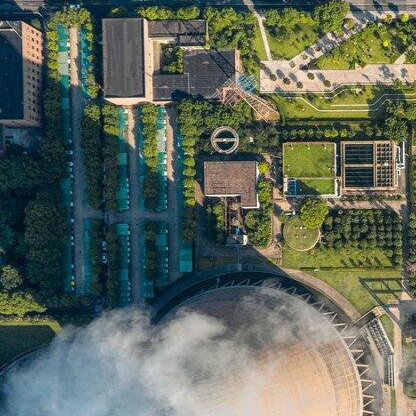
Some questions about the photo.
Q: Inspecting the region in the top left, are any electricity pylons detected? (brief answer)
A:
No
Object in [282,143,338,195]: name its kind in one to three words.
building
